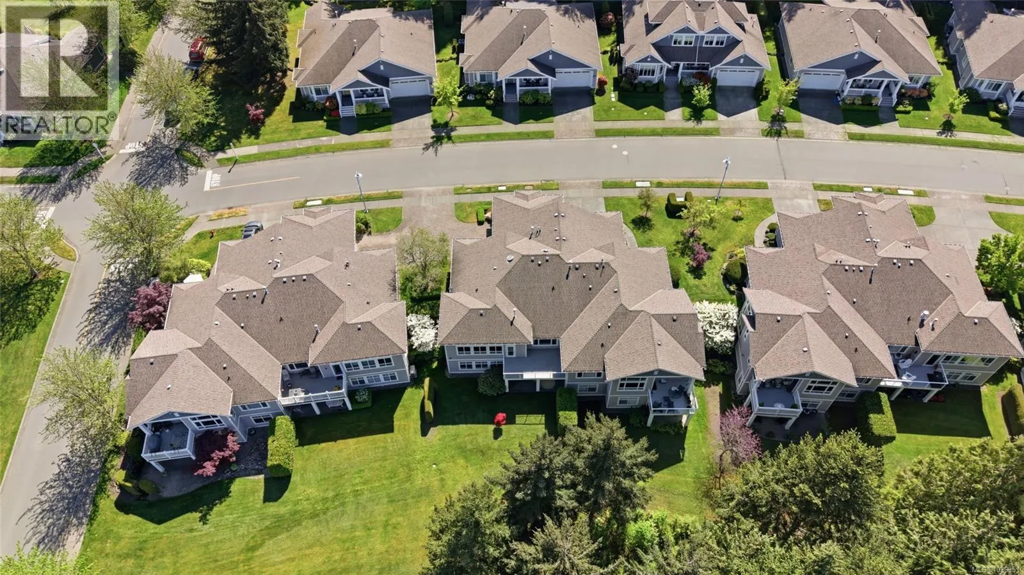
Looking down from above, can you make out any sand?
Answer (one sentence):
No, sand can't be seen anywhere here.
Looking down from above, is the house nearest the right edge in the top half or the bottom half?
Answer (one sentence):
Seen from above, the house nearest the right edge lies in the top half of the view.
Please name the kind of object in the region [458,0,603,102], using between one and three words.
house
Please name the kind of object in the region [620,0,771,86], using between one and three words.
house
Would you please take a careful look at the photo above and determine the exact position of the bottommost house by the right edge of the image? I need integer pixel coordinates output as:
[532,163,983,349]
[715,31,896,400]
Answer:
[738,192,1024,431]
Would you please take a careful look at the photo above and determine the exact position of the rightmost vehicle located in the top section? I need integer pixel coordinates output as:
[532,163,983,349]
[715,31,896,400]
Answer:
[239,213,265,240]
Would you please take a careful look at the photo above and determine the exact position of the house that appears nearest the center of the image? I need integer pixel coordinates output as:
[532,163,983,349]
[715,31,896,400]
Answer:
[435,190,705,425]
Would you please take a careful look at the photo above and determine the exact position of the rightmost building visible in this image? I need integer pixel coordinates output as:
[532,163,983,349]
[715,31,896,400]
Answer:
[942,0,1024,115]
